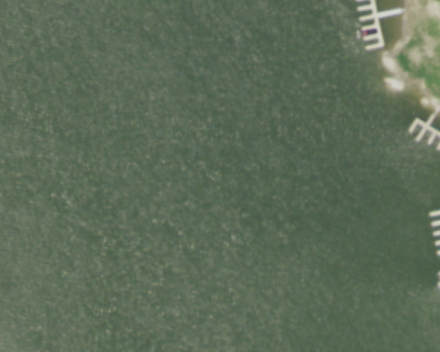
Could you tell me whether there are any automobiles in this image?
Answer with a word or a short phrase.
No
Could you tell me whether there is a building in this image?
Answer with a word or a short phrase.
No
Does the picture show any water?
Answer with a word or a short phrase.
Yes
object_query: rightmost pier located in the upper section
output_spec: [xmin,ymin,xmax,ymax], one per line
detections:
[408,107,440,151]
